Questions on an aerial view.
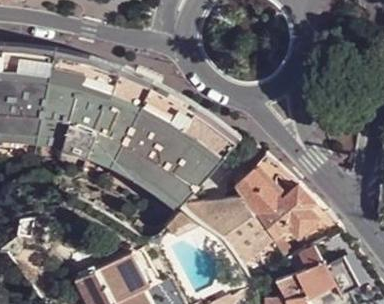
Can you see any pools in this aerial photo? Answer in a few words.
Yes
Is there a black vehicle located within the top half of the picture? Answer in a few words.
No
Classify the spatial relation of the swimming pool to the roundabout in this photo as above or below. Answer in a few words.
below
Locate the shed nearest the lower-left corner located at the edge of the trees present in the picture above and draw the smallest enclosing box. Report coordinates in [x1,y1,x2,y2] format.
[18,216,37,238]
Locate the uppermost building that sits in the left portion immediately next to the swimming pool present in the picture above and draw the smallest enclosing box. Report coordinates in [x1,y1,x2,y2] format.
[0,45,240,212]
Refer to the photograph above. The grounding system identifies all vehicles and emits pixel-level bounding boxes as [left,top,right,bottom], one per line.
[30,28,58,40]
[185,70,206,94]
[206,87,230,107]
